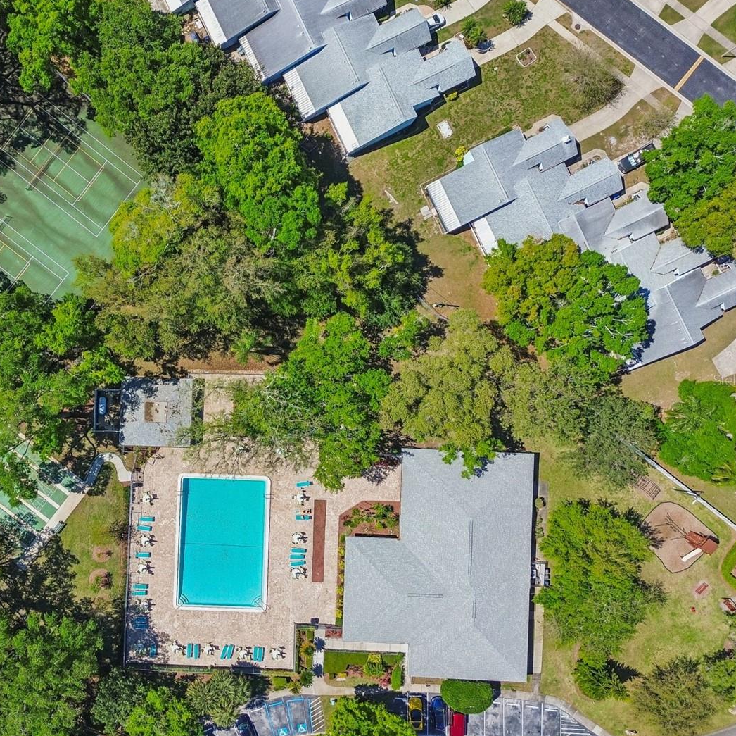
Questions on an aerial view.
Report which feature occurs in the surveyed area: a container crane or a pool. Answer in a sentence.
There is a pool in the scene.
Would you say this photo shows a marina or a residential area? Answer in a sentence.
The picture captures a residential area.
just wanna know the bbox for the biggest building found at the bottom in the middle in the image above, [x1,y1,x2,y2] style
[342,448,535,682]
